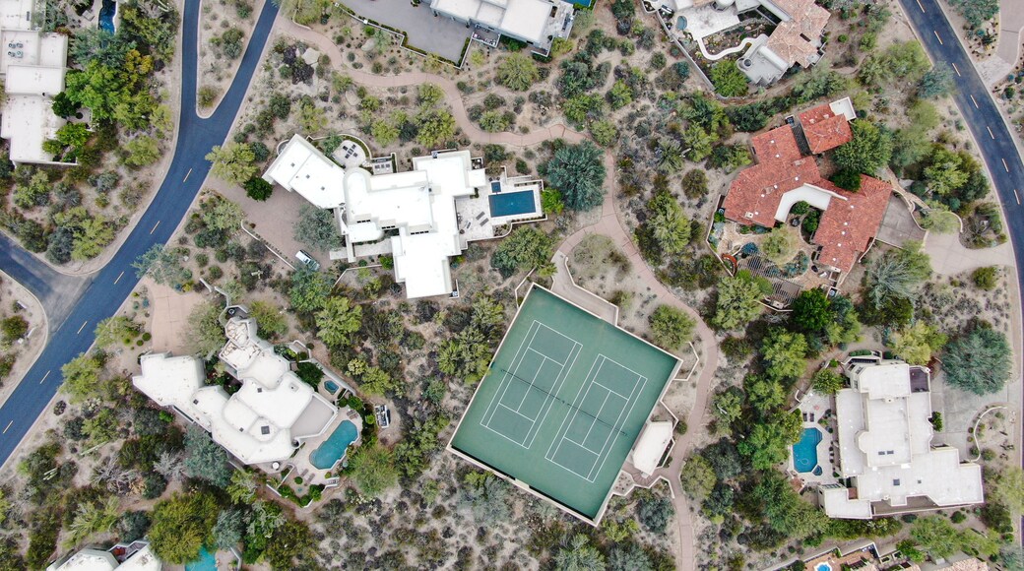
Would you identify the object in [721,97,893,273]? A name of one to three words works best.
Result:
house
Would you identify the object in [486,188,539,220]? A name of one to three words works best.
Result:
swimming pool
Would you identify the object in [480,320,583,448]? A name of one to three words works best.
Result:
tennis court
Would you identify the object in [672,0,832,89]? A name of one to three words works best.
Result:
house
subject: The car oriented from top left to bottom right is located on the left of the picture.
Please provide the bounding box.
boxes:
[296,250,321,269]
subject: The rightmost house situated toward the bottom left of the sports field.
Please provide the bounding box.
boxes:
[134,314,343,464]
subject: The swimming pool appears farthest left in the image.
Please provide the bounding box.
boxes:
[97,0,119,44]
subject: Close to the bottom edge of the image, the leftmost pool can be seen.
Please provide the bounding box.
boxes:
[184,538,221,571]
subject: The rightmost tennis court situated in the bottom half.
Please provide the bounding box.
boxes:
[545,354,647,482]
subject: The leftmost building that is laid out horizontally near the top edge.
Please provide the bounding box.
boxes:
[431,0,552,52]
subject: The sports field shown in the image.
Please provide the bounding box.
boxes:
[451,285,677,518]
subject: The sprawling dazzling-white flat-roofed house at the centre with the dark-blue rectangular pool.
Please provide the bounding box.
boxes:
[263,134,487,298]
